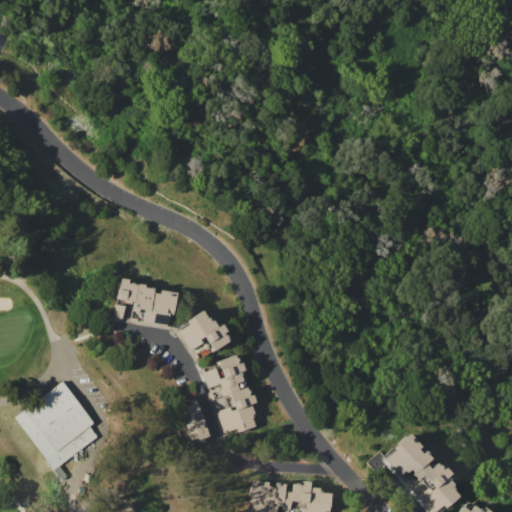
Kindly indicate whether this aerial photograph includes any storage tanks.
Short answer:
No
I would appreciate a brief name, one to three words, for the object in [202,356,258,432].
house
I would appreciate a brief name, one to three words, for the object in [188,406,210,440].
house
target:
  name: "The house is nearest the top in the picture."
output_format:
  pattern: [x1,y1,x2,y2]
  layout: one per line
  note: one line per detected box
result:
[116,278,179,324]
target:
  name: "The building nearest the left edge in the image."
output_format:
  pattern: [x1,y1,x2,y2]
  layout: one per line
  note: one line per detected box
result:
[16,384,98,480]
